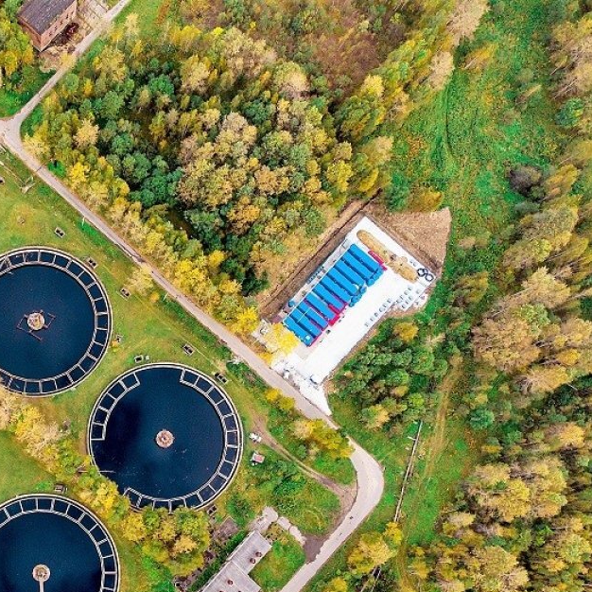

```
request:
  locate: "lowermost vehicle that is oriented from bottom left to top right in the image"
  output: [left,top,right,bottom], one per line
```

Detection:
[306,369,325,387]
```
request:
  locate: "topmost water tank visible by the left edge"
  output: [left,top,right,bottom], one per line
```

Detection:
[0,246,114,399]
